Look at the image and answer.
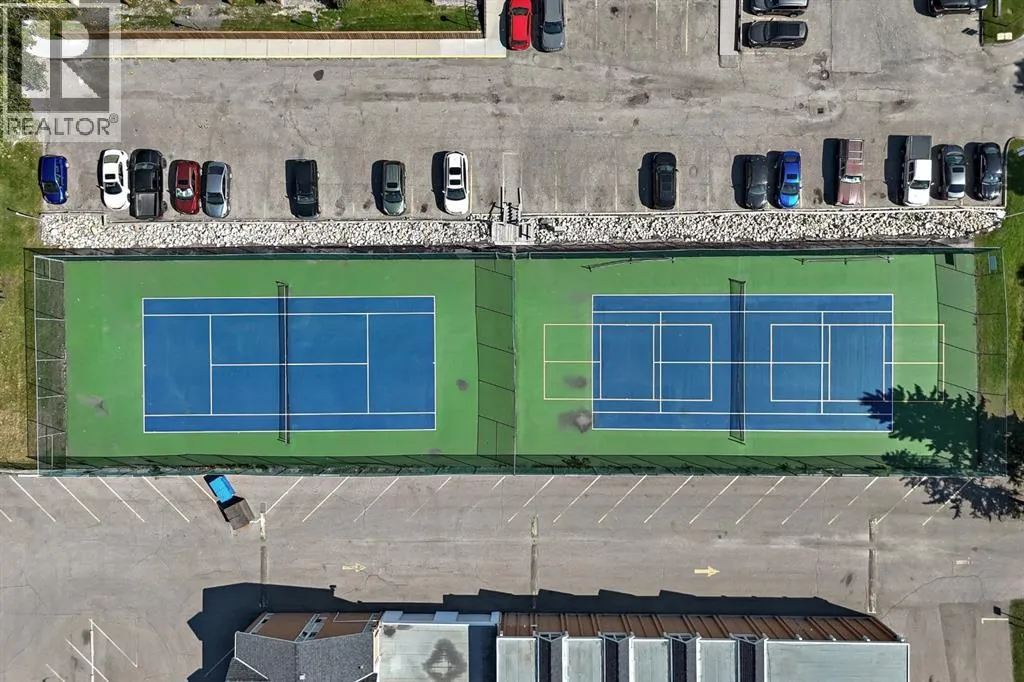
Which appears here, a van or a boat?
van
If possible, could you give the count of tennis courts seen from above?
2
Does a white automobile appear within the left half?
Yes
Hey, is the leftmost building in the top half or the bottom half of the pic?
bottom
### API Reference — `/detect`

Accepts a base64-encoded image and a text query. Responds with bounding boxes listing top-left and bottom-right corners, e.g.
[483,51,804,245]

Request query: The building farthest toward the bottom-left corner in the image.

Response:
[232,611,384,682]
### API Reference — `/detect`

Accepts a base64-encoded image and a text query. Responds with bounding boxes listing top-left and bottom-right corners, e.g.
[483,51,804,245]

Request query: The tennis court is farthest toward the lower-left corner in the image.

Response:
[65,257,514,467]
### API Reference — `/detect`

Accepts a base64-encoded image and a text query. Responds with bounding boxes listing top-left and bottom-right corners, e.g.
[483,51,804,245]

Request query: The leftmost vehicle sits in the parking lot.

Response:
[39,154,70,205]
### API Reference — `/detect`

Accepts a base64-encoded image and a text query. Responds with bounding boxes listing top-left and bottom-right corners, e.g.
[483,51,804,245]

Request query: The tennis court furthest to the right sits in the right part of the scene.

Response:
[514,254,976,467]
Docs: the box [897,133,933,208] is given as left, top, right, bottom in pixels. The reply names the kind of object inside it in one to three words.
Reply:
truck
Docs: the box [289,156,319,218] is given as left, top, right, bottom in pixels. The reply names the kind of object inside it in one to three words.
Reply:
van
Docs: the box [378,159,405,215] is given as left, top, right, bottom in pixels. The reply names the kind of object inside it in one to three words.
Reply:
car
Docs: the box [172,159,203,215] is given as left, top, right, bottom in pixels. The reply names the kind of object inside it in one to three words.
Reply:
car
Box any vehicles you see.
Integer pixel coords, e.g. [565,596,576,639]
[651,151,680,210]
[897,133,933,208]
[505,0,532,50]
[775,150,804,209]
[972,141,1006,202]
[937,144,969,204]
[928,0,989,16]
[203,160,232,218]
[131,149,167,219]
[749,0,810,17]
[536,0,564,50]
[378,159,405,215]
[101,149,133,211]
[440,151,469,216]
[744,154,773,210]
[172,159,203,215]
[835,135,868,207]
[289,156,319,218]
[749,16,809,48]
[39,154,70,205]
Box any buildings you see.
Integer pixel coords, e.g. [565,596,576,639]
[232,611,384,682]
[496,610,910,682]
